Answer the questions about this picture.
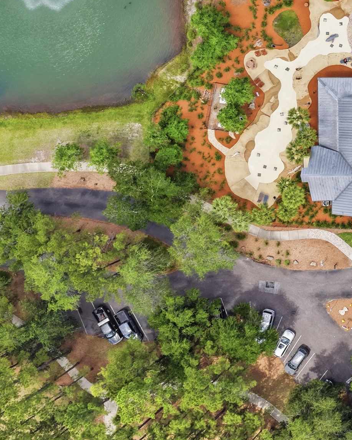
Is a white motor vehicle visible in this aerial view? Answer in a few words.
Yes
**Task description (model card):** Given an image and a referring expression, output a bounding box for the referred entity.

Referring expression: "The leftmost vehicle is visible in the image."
[91,305,121,344]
